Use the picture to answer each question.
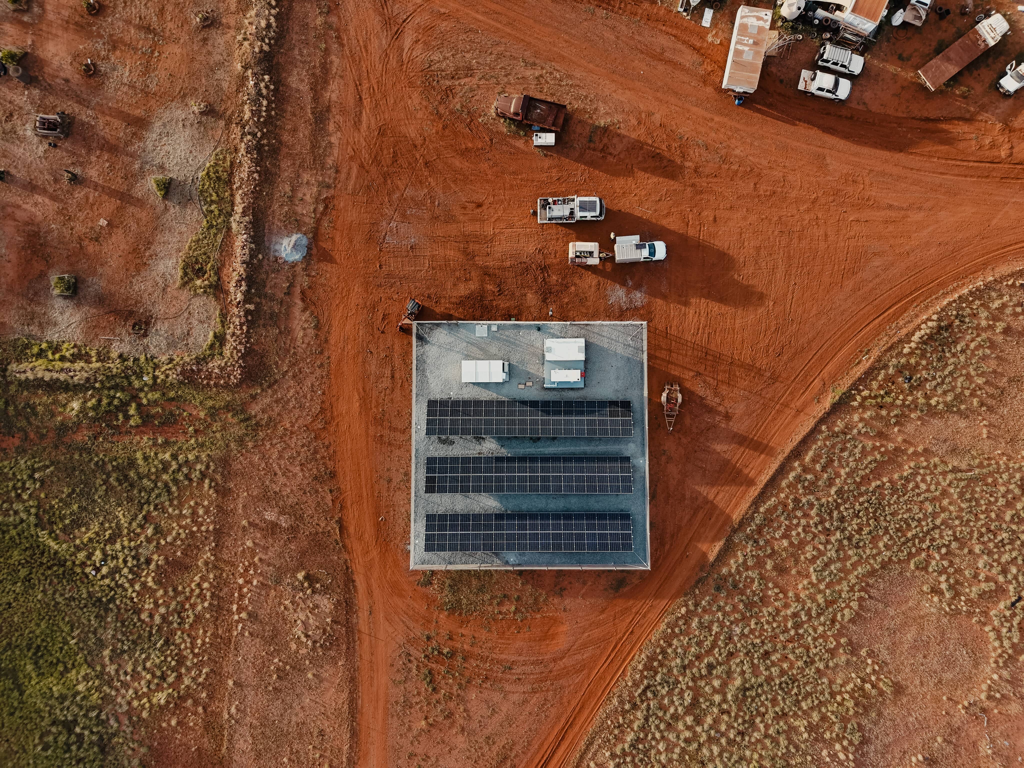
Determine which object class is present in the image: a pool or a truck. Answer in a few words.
truck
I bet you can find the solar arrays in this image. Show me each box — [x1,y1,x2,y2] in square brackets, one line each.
[423,457,634,494]
[423,513,634,552]
[424,400,635,436]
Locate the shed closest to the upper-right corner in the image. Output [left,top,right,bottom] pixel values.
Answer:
[840,0,889,36]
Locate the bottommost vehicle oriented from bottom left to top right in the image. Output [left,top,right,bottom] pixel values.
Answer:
[395,296,426,336]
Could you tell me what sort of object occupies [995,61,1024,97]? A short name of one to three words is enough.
car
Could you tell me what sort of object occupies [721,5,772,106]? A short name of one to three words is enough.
camper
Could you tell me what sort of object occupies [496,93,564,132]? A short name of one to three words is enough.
truck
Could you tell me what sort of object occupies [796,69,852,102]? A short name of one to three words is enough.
truck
